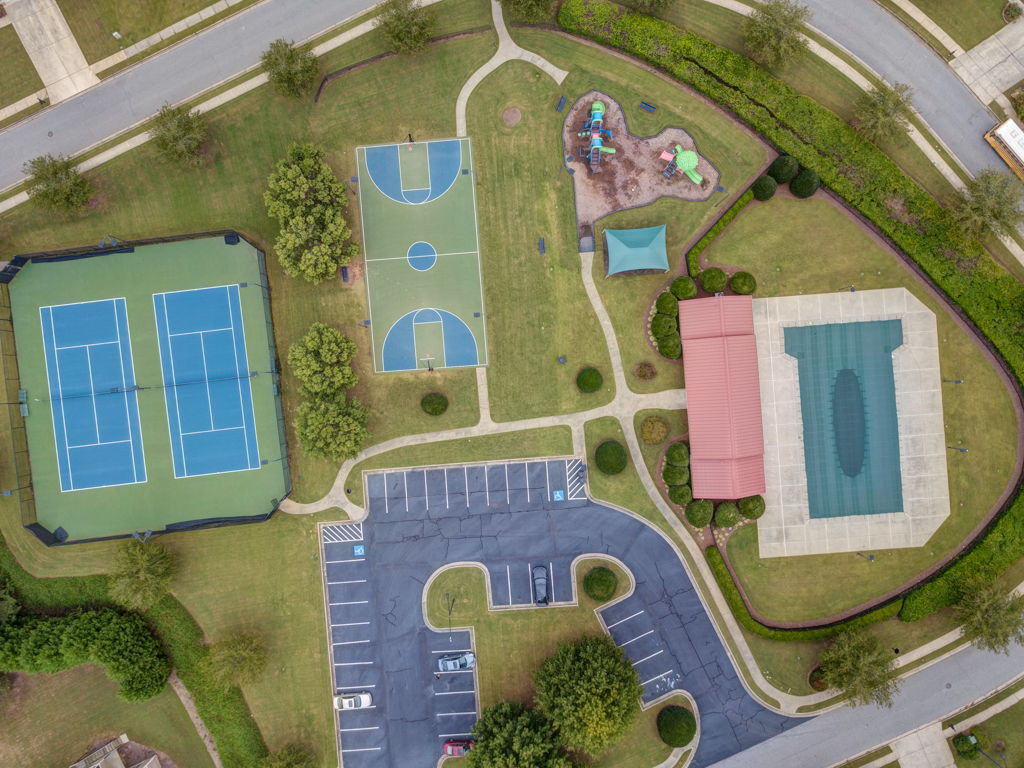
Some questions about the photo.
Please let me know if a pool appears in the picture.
Yes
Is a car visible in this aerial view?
Yes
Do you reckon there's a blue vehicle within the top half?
No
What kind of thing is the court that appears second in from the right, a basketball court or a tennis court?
tennis court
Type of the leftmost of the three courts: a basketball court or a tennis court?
tennis court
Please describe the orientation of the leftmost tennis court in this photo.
from top to bottom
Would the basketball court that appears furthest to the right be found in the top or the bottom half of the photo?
top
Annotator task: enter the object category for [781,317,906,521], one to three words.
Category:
swimming pool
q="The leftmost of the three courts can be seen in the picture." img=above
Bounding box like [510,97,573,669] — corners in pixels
[39,297,146,492]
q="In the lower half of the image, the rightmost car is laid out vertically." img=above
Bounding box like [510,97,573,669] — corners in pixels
[532,567,549,606]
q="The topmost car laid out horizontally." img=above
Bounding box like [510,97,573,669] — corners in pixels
[438,652,476,672]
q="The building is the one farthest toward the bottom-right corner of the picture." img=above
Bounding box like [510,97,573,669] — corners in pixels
[679,295,767,499]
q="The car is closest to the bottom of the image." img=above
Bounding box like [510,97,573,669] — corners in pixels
[443,739,474,758]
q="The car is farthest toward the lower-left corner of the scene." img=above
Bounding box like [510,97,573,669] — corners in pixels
[333,693,373,712]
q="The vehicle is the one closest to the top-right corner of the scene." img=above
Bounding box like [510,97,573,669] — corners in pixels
[986,114,1024,176]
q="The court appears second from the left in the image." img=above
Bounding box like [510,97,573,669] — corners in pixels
[152,284,260,478]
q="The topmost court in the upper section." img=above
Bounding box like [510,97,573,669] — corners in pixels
[355,136,489,375]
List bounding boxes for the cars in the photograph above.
[333,693,373,712]
[443,739,474,758]
[532,567,549,606]
[438,652,476,672]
